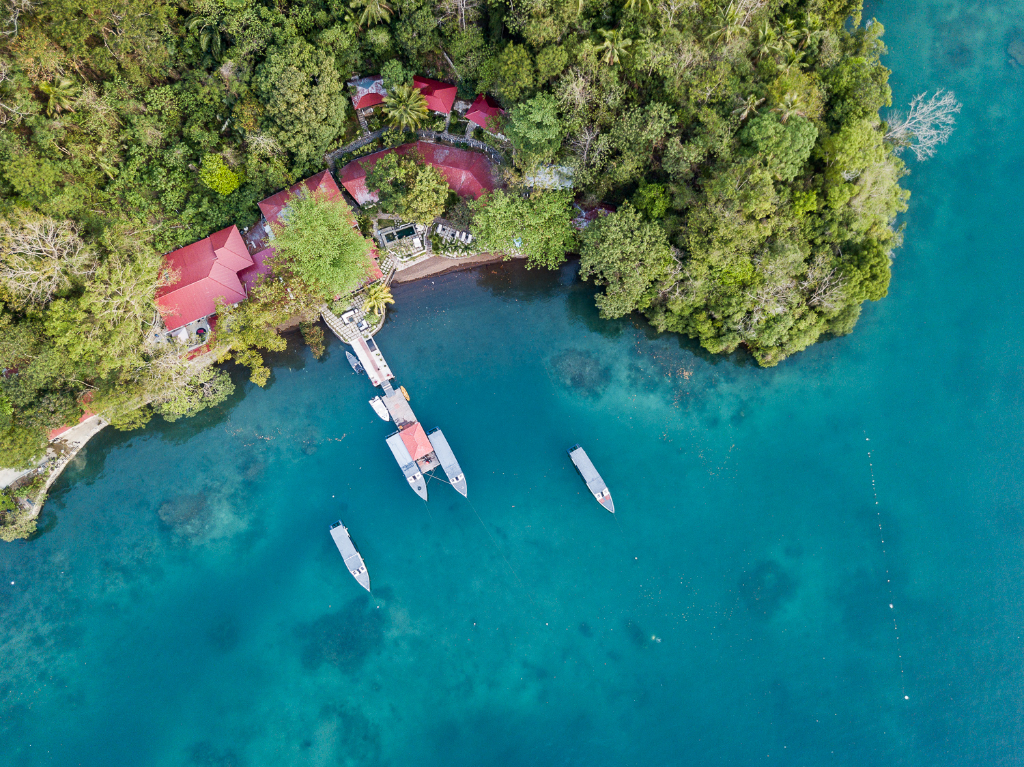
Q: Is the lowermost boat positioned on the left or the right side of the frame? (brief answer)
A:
left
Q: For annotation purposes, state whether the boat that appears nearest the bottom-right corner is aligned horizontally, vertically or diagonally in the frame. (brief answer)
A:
diagonally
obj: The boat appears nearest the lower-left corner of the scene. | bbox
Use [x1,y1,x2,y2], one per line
[329,520,370,593]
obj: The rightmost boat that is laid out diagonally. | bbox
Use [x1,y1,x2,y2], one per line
[566,443,615,514]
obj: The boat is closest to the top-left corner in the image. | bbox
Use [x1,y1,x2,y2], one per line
[345,351,364,374]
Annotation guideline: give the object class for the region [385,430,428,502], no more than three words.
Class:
boat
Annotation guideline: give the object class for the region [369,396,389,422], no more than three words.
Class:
boat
